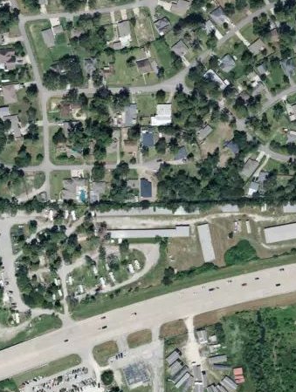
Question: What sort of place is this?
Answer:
residential area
